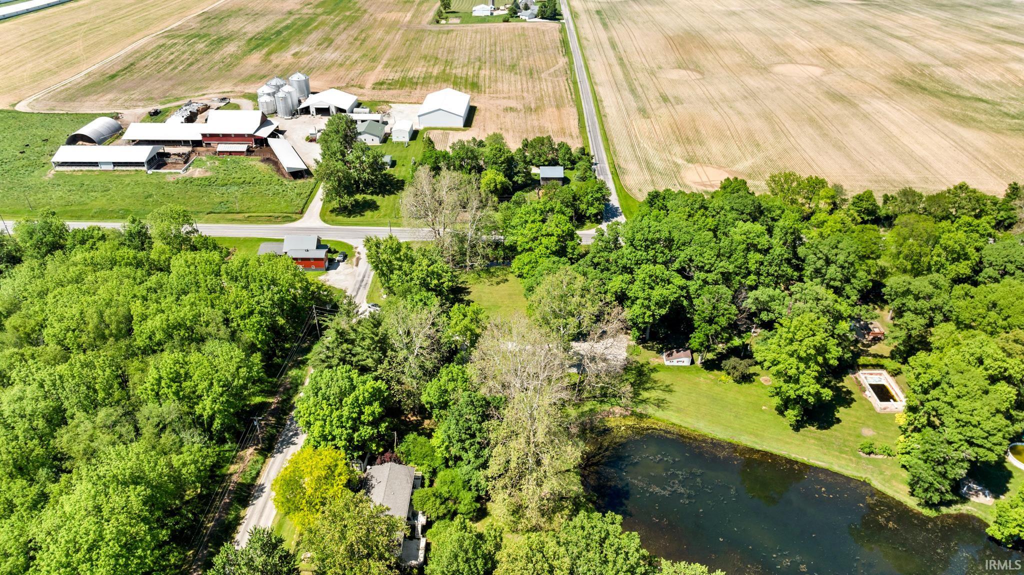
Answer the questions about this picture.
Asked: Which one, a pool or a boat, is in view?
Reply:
pool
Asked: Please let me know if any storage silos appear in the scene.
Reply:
Yes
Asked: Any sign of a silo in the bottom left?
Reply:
No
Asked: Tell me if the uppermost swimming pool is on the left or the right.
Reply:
right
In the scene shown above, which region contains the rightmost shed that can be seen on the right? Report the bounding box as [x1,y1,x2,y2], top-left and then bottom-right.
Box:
[663,347,693,365]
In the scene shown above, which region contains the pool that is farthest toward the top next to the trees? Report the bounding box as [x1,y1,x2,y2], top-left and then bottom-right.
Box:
[855,369,909,412]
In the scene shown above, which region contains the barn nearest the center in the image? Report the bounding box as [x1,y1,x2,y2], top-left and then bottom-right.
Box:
[540,166,564,185]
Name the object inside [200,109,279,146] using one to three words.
barn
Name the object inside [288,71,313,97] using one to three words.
silo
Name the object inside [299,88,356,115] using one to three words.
barn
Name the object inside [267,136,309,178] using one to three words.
shed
